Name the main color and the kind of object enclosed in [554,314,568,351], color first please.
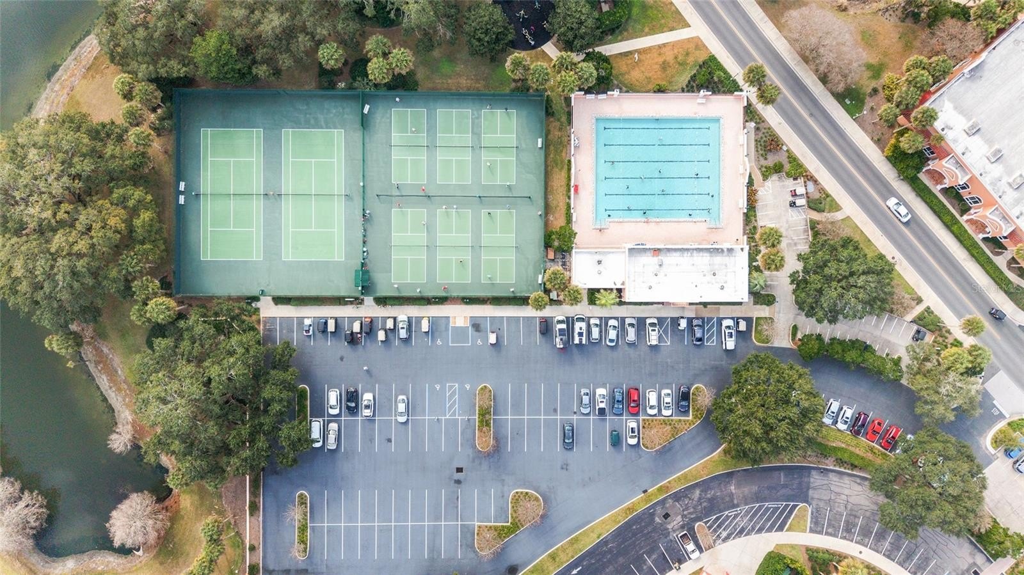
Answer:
white vehicle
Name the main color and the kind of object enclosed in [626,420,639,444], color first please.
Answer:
white vehicle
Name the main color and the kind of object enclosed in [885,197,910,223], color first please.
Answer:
white car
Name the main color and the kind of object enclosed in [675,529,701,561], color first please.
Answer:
white truck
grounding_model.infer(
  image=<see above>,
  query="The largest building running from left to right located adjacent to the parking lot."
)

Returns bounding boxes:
[571,247,748,307]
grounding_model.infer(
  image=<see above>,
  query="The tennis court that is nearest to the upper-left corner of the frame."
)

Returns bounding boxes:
[192,129,268,260]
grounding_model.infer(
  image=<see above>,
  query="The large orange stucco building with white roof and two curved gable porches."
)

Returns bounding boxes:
[898,18,1024,272]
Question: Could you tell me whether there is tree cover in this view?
Yes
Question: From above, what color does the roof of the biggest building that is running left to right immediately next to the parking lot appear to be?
white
